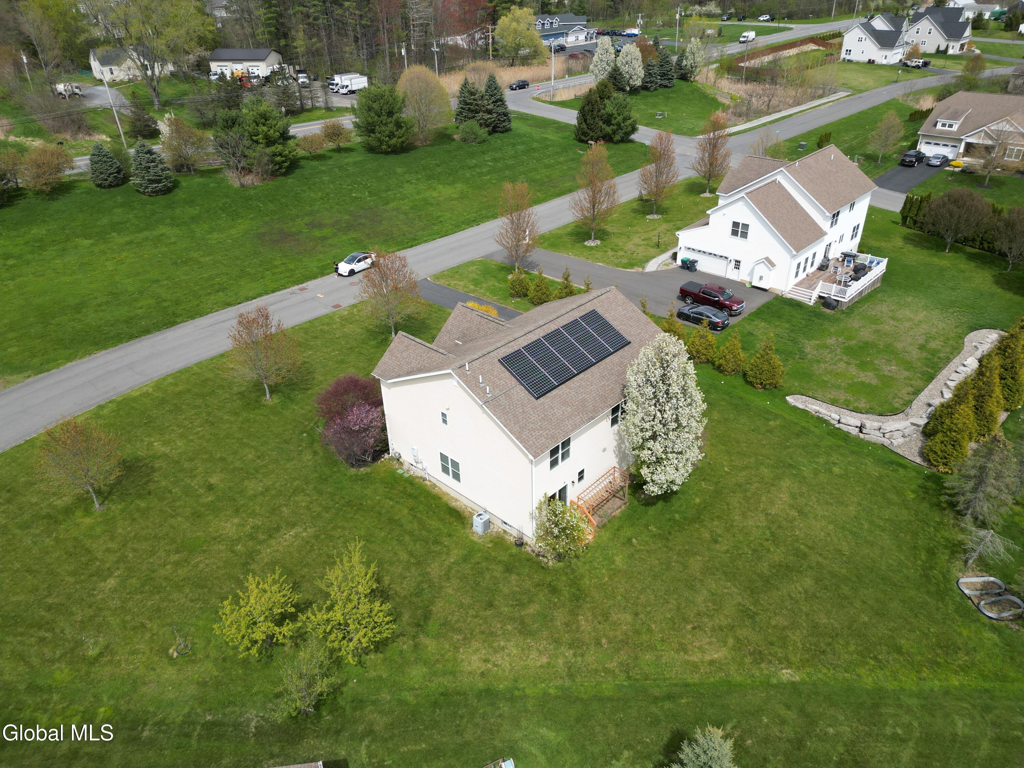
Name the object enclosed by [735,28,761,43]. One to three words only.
vehicle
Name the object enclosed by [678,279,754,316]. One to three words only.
truck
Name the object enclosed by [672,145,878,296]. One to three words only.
house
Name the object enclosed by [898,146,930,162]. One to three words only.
car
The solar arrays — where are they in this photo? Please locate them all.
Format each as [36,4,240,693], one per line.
[497,308,632,403]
